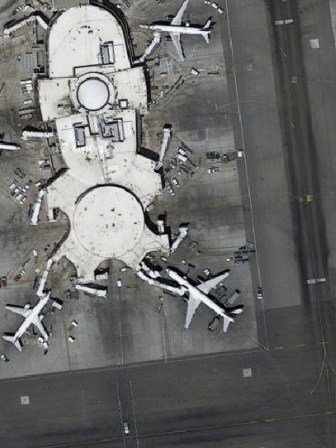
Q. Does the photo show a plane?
Yes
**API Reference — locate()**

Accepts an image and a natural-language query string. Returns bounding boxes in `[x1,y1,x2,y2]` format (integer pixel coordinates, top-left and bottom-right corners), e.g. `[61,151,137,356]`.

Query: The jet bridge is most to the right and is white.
[170,223,186,254]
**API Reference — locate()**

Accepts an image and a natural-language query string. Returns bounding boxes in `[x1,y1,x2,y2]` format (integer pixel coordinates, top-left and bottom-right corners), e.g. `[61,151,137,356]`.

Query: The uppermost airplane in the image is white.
[150,0,215,61]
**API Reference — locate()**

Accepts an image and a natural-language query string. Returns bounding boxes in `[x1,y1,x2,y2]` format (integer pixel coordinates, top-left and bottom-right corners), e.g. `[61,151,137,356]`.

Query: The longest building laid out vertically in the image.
[35,4,170,279]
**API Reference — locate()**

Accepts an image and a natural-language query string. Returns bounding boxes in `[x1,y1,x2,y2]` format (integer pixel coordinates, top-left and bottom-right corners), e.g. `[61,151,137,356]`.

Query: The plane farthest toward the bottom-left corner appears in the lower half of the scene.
[5,292,50,349]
